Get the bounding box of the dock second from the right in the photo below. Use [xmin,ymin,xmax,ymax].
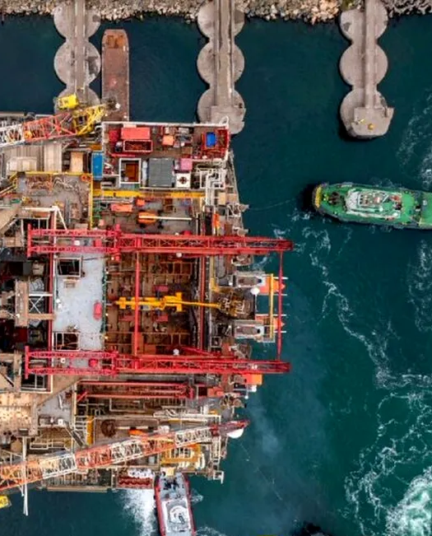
[192,0,245,136]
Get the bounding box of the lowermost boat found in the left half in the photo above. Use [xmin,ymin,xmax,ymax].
[149,476,196,536]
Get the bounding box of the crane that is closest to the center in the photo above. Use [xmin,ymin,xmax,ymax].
[136,210,192,229]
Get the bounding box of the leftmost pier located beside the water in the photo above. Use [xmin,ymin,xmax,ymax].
[52,0,101,123]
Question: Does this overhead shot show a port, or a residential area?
port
